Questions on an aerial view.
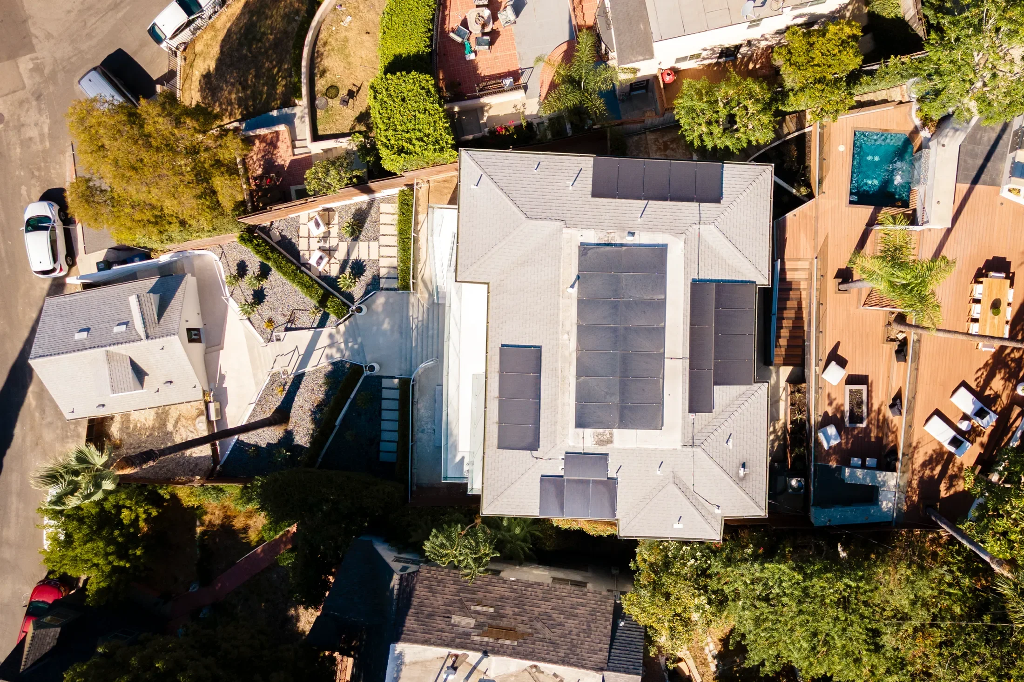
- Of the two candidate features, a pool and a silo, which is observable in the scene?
pool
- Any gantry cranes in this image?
No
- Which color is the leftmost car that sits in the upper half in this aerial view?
white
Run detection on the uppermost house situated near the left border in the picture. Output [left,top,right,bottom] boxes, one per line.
[30,272,209,422]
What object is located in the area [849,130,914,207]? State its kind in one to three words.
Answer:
swimming pool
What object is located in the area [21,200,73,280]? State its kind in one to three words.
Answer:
car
